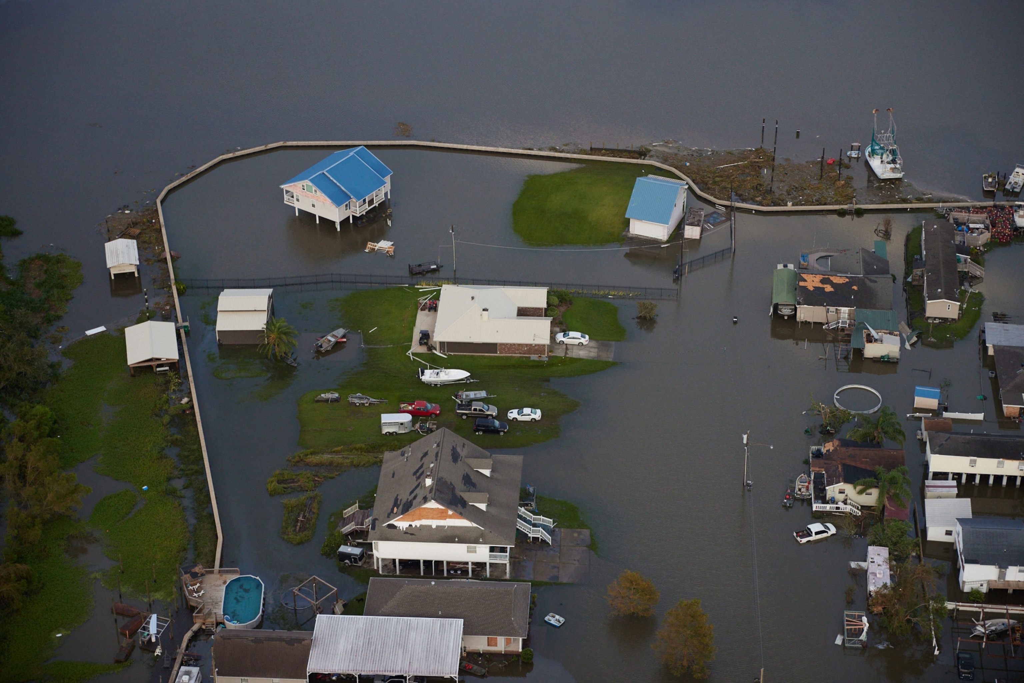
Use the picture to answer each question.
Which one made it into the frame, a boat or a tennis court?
boat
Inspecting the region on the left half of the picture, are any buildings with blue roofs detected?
Yes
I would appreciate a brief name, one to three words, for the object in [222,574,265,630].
swimming pool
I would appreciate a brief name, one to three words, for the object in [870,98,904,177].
boat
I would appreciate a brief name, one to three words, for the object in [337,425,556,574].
house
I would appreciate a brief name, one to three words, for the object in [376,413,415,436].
trailer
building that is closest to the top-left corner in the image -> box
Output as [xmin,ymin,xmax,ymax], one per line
[105,238,139,280]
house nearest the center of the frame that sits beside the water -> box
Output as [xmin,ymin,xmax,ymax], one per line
[411,285,556,362]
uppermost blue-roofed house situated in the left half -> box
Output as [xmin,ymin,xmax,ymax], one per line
[279,145,395,232]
